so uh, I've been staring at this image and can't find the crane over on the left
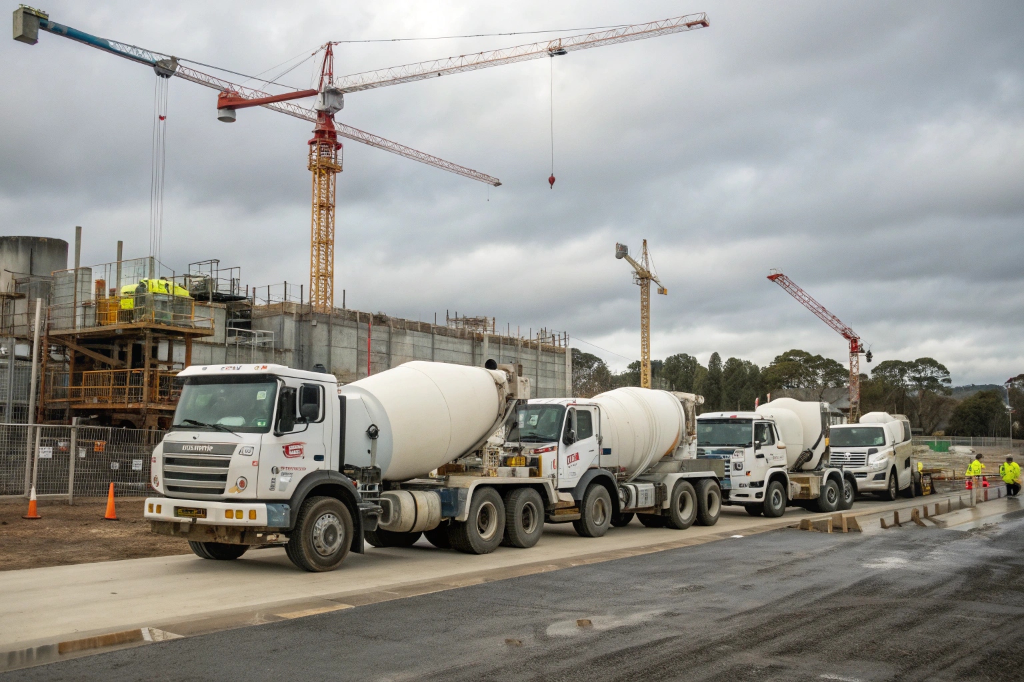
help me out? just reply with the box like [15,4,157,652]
[10,0,711,311]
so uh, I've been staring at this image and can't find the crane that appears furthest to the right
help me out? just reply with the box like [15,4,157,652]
[767,255,894,401]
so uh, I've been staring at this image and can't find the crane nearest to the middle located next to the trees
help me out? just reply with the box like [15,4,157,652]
[568,240,667,372]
